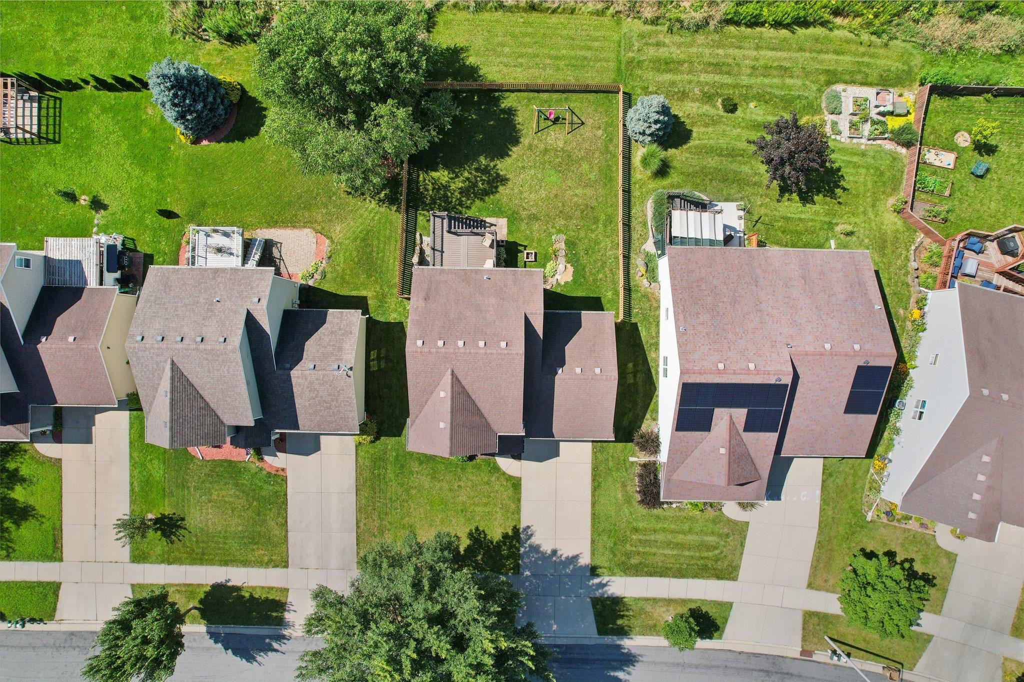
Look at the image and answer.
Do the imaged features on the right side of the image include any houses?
Yes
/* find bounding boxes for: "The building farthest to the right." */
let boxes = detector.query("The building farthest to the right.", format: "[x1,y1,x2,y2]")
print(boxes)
[869,281,1024,542]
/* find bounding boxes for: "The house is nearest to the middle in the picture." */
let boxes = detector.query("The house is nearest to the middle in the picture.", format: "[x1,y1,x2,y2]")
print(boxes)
[403,265,619,458]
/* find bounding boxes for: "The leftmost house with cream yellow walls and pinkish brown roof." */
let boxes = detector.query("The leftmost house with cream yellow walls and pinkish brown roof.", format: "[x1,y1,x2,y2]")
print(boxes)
[0,241,138,442]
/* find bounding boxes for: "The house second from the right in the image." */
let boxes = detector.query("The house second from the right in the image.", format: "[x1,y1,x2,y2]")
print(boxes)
[633,242,902,501]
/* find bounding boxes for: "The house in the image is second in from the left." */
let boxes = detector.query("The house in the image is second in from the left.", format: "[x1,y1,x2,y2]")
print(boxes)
[124,265,368,461]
